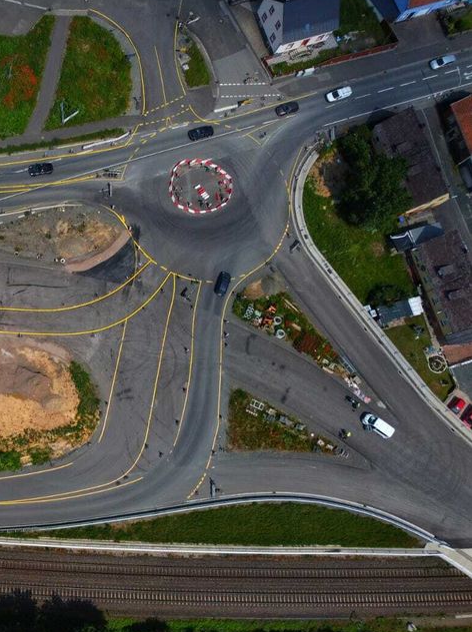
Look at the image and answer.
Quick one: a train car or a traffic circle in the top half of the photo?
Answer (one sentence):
Looking in the top half of the photo, you will find a traffic circle.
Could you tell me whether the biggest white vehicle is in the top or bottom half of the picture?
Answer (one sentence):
The bottom half of the photo is where the biggest white vehicle is.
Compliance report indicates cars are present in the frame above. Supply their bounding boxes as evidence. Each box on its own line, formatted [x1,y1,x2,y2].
[27,162,53,176]
[325,84,353,102]
[449,396,468,416]
[427,53,458,69]
[186,125,216,140]
[215,270,230,296]
[273,100,300,117]
[461,408,472,431]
